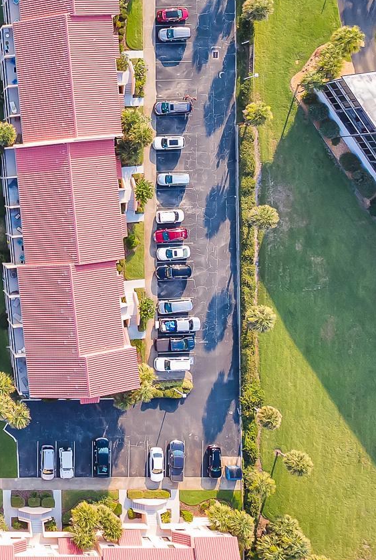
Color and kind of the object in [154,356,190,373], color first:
white car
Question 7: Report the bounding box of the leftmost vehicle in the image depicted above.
[39,443,56,479]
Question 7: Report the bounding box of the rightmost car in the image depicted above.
[205,443,222,477]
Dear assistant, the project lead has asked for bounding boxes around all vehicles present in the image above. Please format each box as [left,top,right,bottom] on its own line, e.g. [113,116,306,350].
[156,246,189,261]
[150,135,184,150]
[155,7,187,23]
[155,100,190,116]
[152,227,187,243]
[156,27,190,42]
[155,209,184,224]
[156,264,189,279]
[154,336,194,353]
[157,298,192,315]
[58,444,75,477]
[155,171,189,187]
[205,443,222,477]
[39,443,56,479]
[166,440,185,481]
[147,446,164,480]
[154,356,190,373]
[158,317,198,334]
